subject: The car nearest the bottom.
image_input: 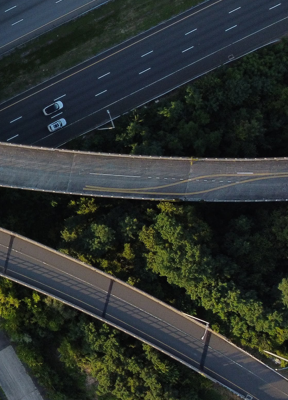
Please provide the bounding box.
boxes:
[46,118,67,132]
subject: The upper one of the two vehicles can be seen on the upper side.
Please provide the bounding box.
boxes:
[42,101,63,114]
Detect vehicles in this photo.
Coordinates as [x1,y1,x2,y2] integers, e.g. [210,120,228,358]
[42,101,63,114]
[46,118,67,132]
